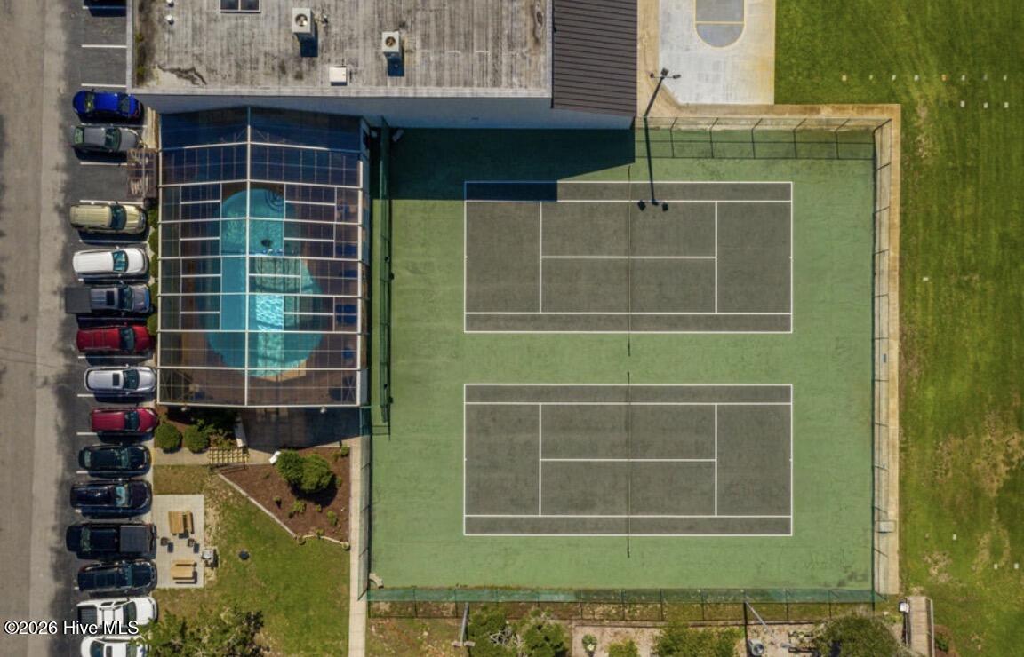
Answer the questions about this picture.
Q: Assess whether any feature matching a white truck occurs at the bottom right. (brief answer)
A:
No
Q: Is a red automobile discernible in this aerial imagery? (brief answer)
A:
Yes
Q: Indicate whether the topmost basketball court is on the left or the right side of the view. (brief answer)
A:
right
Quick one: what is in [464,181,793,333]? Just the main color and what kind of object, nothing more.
gray tennis court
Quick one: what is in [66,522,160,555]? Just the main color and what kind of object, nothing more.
black truck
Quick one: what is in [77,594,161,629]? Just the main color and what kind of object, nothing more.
white truck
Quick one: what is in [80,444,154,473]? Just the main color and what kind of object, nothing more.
black car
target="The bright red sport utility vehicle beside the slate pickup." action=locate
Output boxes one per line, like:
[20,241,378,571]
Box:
[79,323,155,355]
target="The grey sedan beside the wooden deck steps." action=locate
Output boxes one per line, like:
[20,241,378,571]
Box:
[71,123,142,153]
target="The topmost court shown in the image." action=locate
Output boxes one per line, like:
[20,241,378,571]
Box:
[659,0,775,104]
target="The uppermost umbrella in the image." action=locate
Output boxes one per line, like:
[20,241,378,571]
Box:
[340,304,360,323]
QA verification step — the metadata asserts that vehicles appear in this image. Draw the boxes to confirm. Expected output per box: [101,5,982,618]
[65,284,153,316]
[66,522,160,555]
[80,444,154,473]
[79,323,155,355]
[81,634,156,657]
[71,123,142,153]
[74,247,150,278]
[70,203,149,235]
[82,0,129,10]
[73,480,155,511]
[77,594,161,629]
[93,405,160,436]
[81,559,160,592]
[74,89,146,120]
[85,365,157,395]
